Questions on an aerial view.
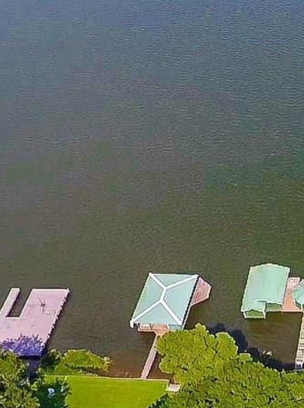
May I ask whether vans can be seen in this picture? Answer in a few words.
No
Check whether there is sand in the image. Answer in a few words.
No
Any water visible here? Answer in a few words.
Yes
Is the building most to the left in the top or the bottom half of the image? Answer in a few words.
bottom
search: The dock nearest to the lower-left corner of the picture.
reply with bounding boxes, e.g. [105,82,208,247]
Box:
[0,287,71,357]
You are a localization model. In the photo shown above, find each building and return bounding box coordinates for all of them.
[131,272,198,337]
[239,262,290,327]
